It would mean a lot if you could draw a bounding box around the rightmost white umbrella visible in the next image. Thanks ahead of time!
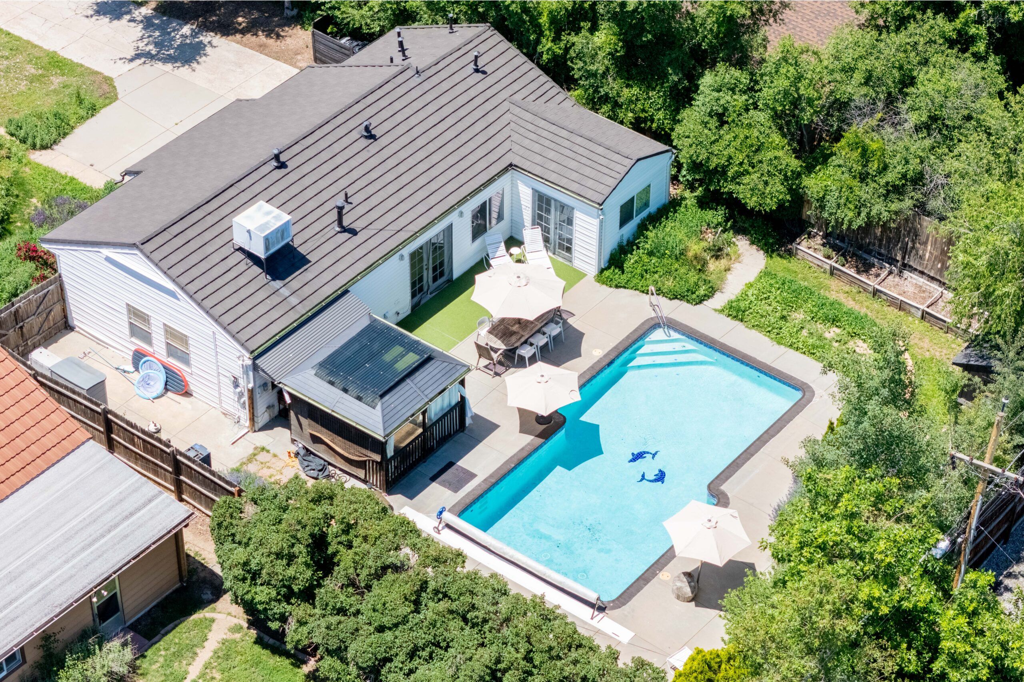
[656,502,751,586]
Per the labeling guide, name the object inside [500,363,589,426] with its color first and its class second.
white umbrella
